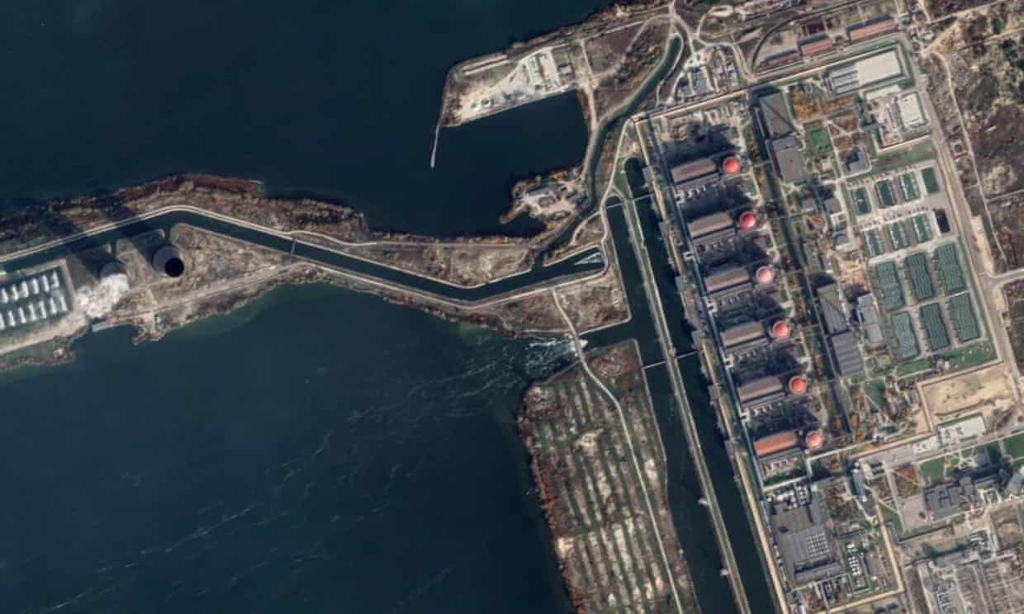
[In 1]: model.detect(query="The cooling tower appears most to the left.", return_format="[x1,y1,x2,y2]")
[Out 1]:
[99,259,133,294]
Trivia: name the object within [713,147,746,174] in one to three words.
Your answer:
building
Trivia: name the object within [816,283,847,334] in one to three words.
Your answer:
building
